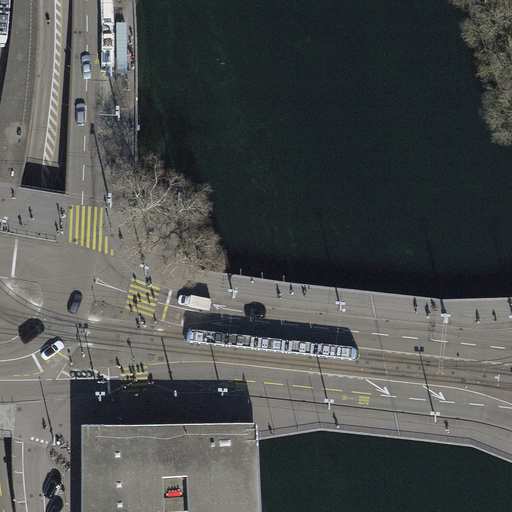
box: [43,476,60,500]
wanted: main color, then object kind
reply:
black car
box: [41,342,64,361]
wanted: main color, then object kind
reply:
white car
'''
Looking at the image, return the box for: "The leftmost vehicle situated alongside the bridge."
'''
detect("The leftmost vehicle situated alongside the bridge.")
[178,294,212,312]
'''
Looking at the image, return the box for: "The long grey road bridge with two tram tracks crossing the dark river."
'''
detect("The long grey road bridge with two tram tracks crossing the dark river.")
[222,272,512,465]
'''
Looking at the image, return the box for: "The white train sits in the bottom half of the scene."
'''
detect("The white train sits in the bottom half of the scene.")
[186,331,358,360]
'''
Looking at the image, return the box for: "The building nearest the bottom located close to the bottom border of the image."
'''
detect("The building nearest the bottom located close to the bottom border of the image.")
[79,424,262,512]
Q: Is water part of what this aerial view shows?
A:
Yes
